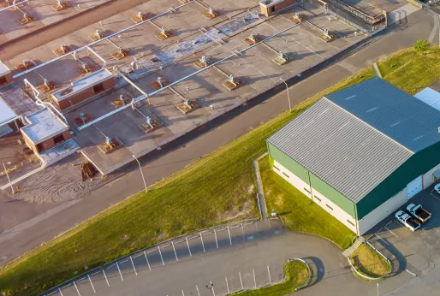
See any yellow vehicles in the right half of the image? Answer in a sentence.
No, I can find no yellow vehicle in the right half of the image.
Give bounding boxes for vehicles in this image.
[433,183,440,194]
[406,201,433,224]
[395,209,422,232]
